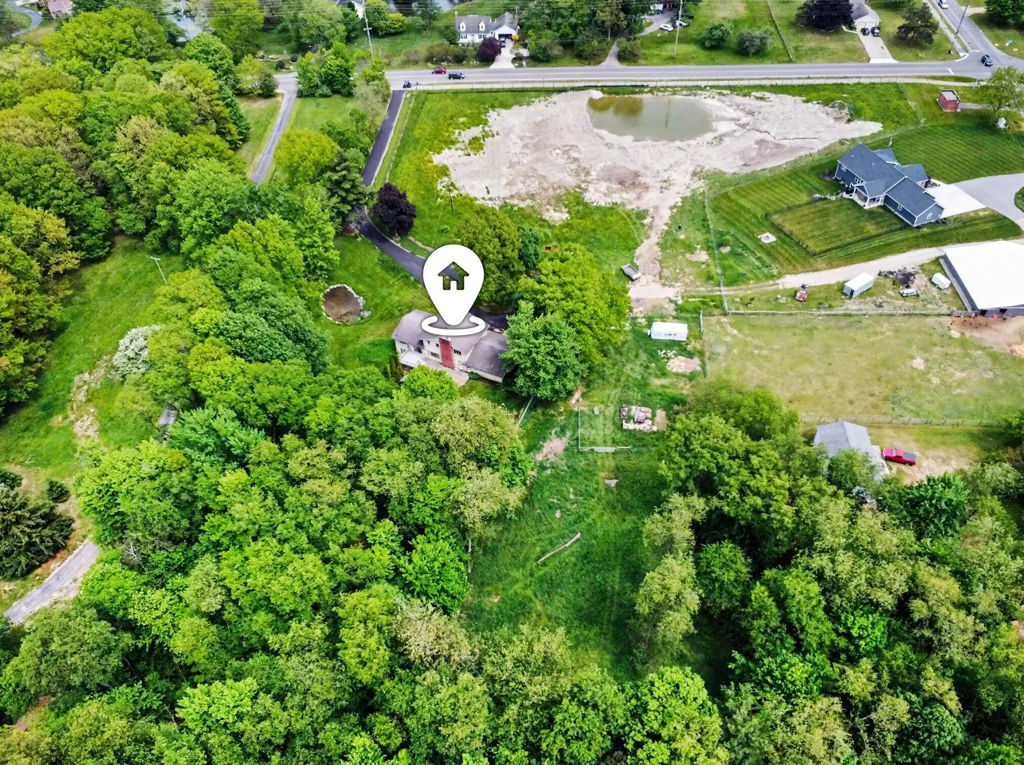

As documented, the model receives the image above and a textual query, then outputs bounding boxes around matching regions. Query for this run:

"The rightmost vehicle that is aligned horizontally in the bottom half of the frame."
[884,452,919,468]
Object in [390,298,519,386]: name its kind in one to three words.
house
